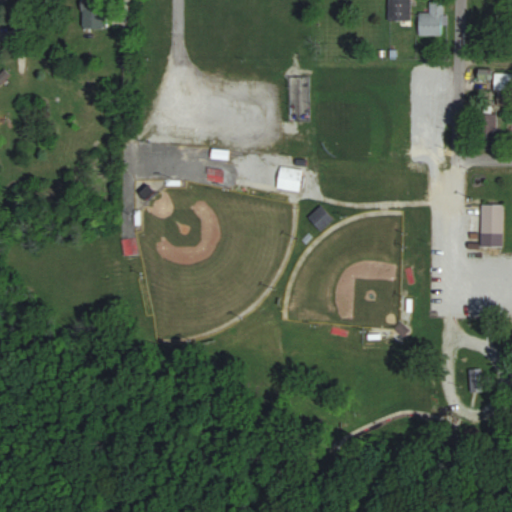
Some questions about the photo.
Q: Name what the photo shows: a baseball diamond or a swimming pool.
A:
baseball diamond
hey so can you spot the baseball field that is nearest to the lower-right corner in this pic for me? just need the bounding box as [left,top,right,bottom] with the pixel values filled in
[284,210,402,330]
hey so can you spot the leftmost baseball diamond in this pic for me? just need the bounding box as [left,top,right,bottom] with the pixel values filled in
[140,182,298,344]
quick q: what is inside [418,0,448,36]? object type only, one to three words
house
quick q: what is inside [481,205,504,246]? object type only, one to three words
building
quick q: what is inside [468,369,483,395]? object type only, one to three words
building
